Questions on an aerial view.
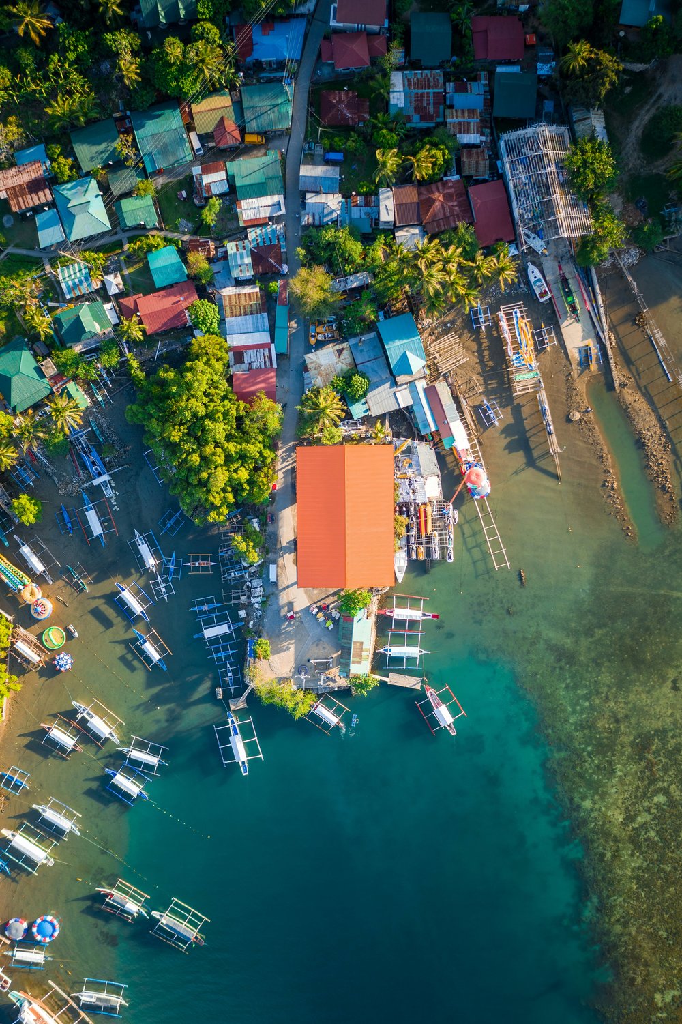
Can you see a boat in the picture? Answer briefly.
Yes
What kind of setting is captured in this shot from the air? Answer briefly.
residential area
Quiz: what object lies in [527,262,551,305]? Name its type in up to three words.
boat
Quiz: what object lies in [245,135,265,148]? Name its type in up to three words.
vehicle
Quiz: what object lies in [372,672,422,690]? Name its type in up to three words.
pier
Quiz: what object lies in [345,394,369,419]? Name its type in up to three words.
shed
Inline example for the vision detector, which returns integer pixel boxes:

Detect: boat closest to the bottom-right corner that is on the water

[416,684,467,737]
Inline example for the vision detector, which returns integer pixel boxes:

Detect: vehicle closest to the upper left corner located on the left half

[190,133,205,158]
